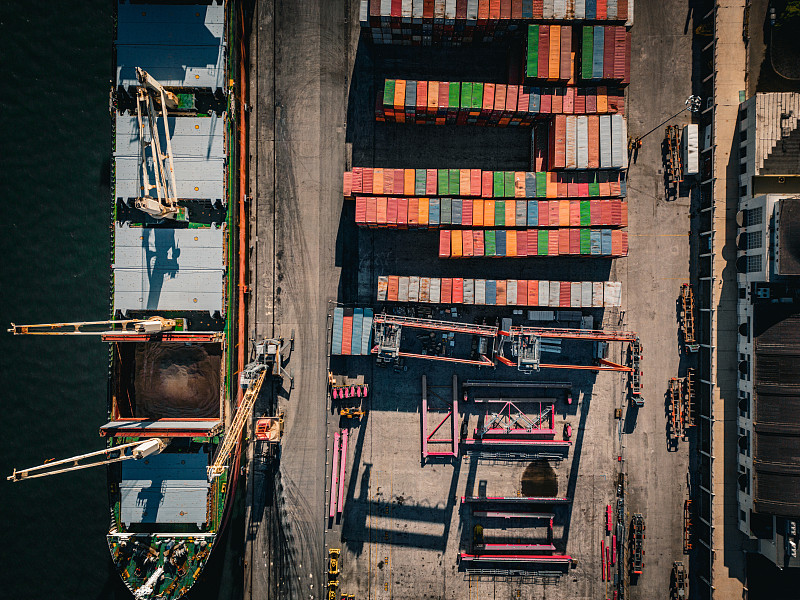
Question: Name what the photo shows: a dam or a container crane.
container crane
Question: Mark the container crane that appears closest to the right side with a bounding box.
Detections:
[493,319,637,377]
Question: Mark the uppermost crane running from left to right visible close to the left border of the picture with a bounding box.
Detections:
[6,314,198,338]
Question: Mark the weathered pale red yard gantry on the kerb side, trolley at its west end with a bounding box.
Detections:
[370,309,501,367]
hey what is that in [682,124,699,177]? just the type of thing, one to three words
trailer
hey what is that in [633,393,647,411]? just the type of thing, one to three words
vehicle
